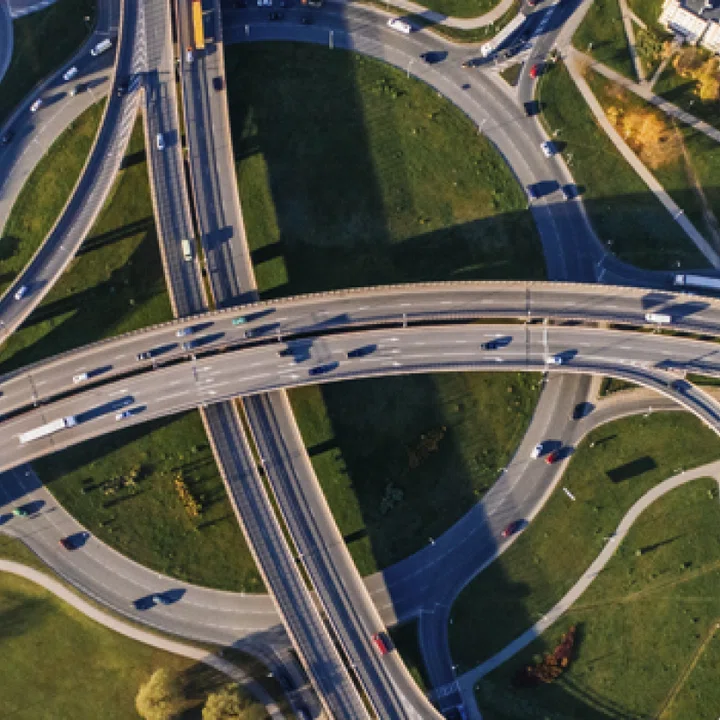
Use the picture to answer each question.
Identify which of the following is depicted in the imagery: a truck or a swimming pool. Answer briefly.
truck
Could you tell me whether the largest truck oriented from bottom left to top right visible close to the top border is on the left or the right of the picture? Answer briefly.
right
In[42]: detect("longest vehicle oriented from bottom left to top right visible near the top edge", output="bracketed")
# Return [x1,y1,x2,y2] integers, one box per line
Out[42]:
[482,6,531,54]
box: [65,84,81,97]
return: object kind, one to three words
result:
vehicle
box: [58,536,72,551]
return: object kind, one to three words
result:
car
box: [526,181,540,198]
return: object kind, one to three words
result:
vehicle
